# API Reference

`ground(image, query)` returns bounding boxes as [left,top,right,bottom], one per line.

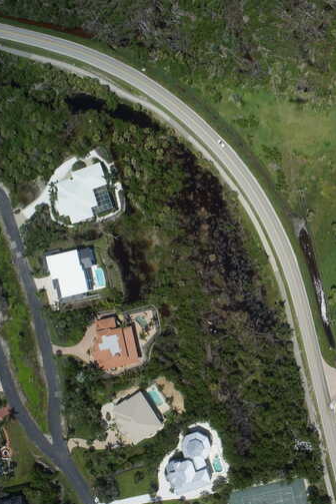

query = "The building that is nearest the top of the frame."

[50,161,116,227]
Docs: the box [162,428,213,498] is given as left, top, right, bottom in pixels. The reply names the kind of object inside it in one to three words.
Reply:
house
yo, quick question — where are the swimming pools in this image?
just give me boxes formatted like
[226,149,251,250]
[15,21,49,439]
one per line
[213,456,223,473]
[148,390,165,405]
[94,266,106,287]
[135,315,148,327]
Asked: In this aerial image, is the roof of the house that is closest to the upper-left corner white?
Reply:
Yes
